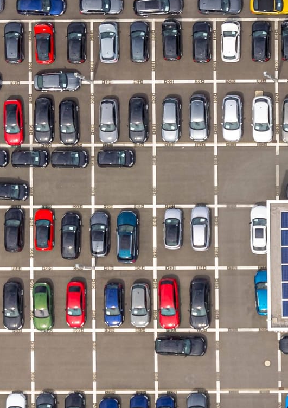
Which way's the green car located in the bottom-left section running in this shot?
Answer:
from top to bottom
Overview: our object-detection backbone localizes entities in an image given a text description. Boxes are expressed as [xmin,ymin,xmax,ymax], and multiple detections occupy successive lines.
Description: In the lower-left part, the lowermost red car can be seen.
[64,281,87,328]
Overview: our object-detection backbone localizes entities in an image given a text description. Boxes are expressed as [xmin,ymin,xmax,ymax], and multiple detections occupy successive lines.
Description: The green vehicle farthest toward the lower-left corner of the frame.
[31,283,54,331]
